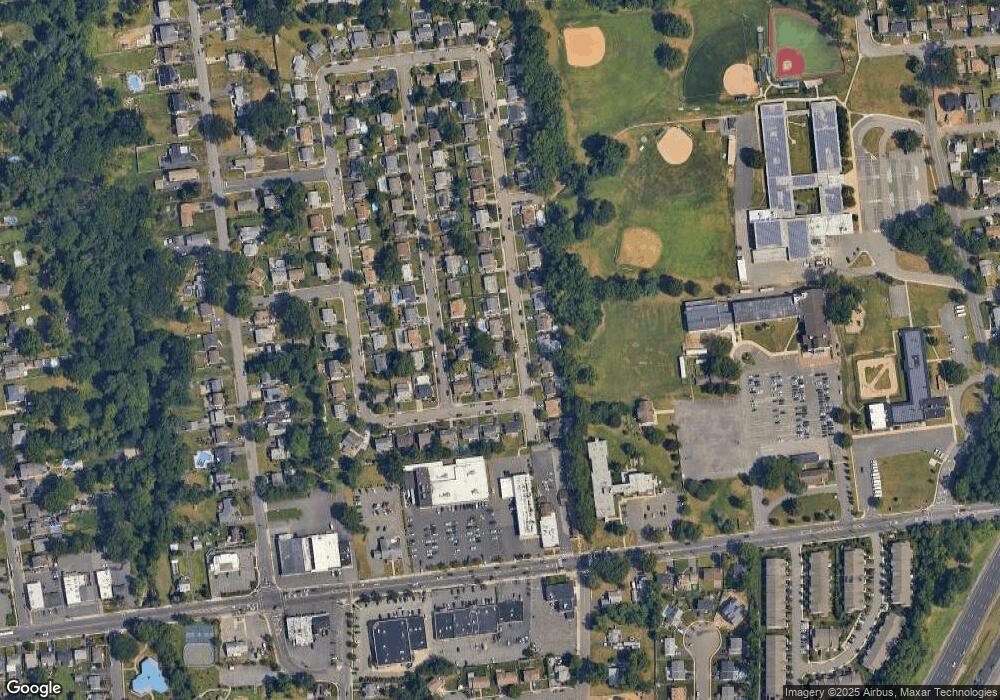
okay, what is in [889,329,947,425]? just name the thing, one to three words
building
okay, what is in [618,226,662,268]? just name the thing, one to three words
baseball field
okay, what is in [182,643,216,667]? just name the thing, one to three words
sports court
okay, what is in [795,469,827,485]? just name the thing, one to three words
house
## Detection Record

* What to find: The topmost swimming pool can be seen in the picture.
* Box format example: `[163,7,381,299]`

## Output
[128,73,144,93]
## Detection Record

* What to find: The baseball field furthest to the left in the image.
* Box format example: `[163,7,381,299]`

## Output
[561,24,606,66]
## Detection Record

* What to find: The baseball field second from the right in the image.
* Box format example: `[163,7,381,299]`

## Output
[684,23,764,99]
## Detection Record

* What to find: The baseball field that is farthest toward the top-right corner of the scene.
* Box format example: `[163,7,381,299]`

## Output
[770,8,845,81]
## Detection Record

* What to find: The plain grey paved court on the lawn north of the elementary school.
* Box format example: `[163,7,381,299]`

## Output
[889,285,909,318]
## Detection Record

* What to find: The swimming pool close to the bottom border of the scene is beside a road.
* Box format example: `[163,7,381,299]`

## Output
[131,656,169,694]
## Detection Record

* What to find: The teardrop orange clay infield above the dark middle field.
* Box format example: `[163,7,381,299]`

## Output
[656,123,693,164]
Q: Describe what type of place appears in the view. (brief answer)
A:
residential area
